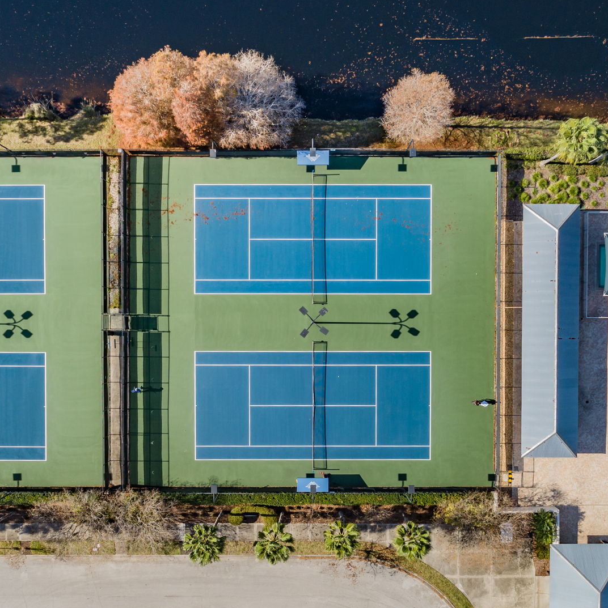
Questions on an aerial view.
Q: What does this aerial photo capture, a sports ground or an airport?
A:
sports ground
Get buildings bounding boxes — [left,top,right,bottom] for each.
[522,203,581,458]
[549,543,608,608]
